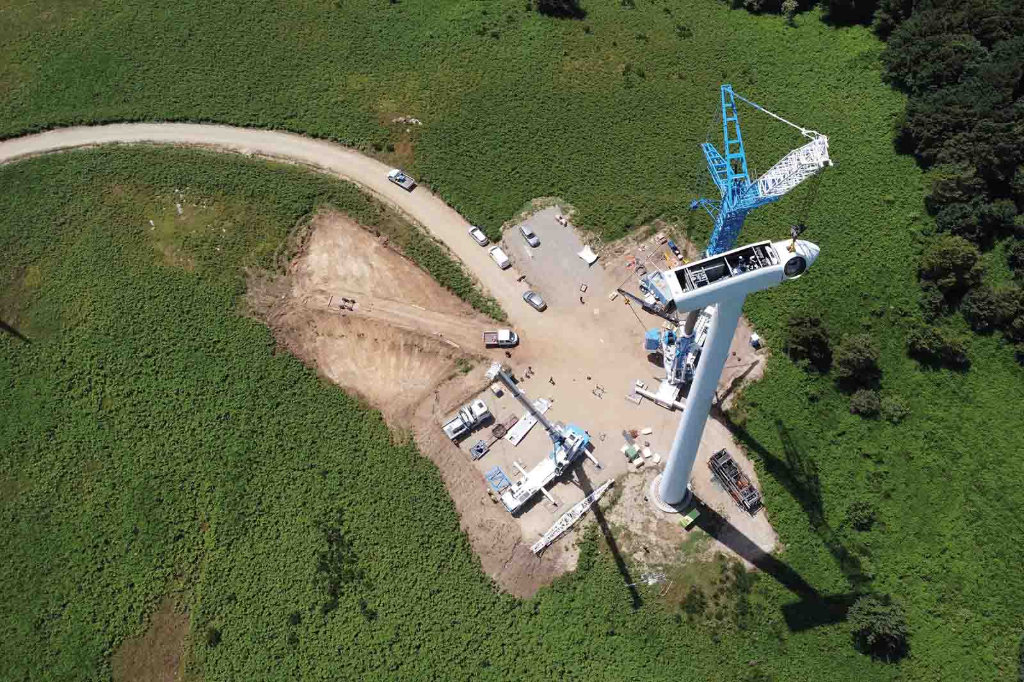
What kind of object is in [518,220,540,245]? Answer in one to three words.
car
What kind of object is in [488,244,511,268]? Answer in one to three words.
vehicle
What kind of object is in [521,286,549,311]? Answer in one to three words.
car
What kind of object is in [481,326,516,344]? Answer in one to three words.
vehicle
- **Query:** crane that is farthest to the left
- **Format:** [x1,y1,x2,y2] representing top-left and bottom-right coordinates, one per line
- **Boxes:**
[479,361,597,511]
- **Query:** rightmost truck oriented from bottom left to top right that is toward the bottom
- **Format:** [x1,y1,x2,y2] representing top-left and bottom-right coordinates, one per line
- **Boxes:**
[442,396,494,445]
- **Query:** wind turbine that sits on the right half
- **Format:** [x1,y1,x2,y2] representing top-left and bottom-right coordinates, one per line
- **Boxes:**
[657,237,823,506]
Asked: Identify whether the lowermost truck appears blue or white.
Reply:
white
